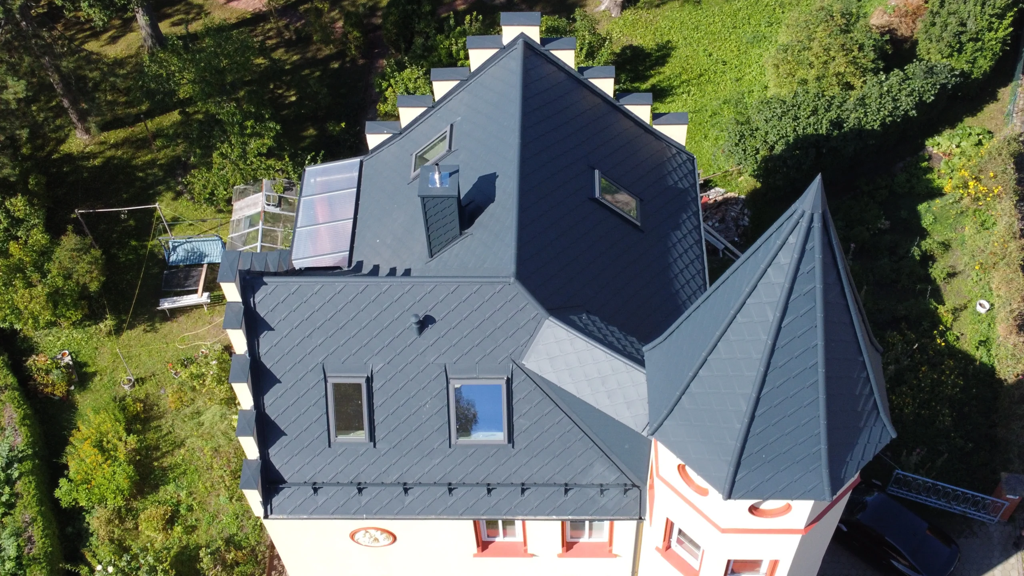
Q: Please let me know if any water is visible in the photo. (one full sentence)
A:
No, there's no water in this view.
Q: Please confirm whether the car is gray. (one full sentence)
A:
No, the car is actually black.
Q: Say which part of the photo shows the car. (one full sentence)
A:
The car sits in the bottom right section of the image.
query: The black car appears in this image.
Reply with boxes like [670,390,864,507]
[827,484,988,576]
